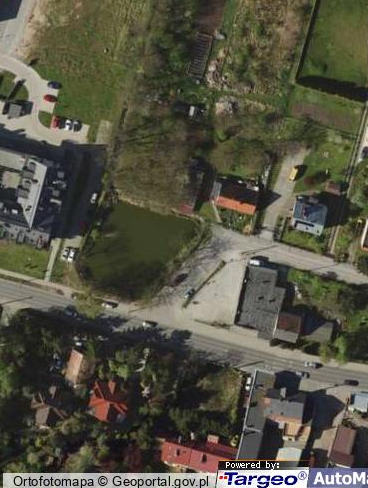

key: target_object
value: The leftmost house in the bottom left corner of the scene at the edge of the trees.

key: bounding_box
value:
[31,392,65,424]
